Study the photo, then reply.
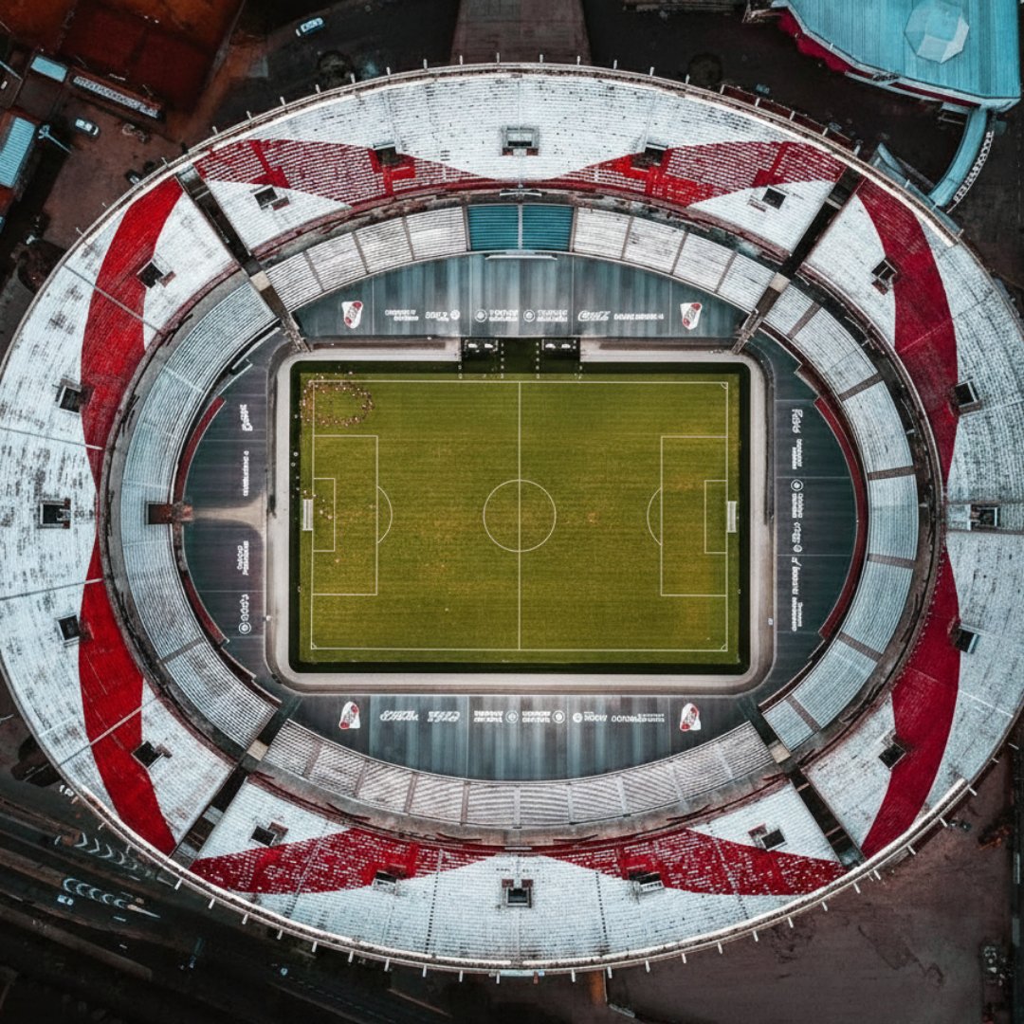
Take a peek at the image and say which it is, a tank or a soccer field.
soccer field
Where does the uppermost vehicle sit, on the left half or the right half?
left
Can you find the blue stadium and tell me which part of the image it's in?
top right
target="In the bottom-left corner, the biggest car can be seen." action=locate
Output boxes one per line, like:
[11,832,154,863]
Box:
[56,895,73,907]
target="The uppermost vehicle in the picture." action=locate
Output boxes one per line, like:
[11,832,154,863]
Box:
[295,15,323,35]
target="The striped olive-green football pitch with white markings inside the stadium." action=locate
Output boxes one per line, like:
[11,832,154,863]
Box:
[290,338,751,673]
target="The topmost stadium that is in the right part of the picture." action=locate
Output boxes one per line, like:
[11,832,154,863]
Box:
[760,0,1022,119]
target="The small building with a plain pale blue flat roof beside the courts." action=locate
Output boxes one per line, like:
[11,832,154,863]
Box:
[31,57,73,89]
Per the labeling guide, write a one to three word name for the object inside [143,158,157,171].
vehicle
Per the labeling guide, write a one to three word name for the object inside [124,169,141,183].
car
